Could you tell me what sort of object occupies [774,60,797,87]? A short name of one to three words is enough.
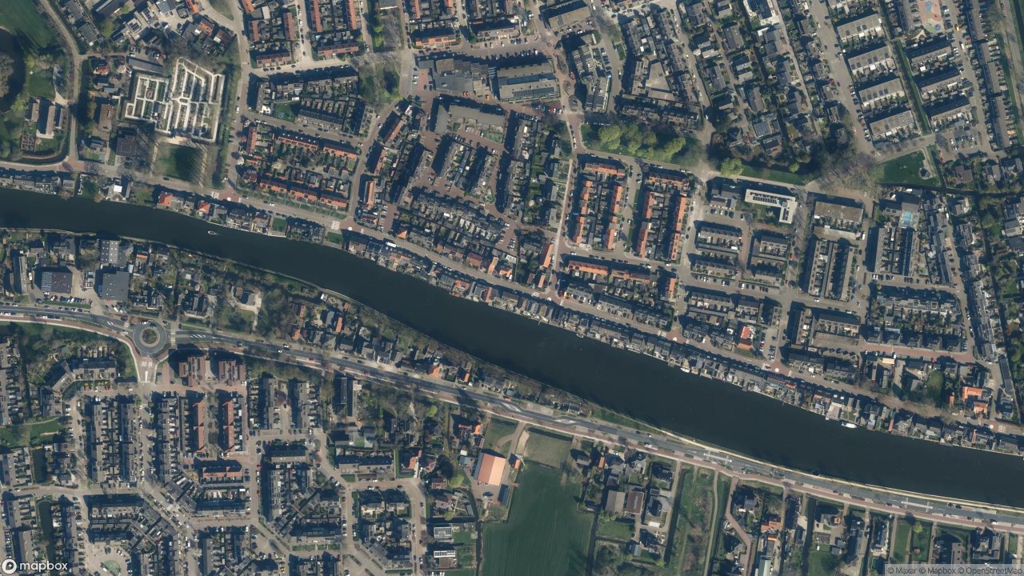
house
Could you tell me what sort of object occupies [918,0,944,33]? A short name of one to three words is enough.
playground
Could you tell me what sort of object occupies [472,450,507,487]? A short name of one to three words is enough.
barn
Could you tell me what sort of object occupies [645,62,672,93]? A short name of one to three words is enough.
building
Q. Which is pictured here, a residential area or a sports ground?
residential area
